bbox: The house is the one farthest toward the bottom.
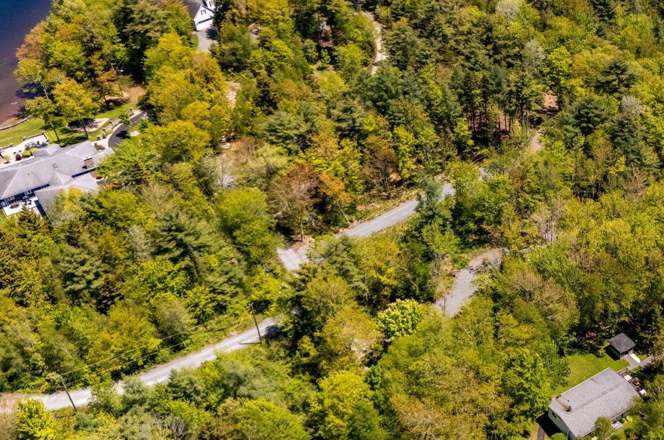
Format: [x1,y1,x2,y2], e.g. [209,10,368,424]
[546,370,642,440]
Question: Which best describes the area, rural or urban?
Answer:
rural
